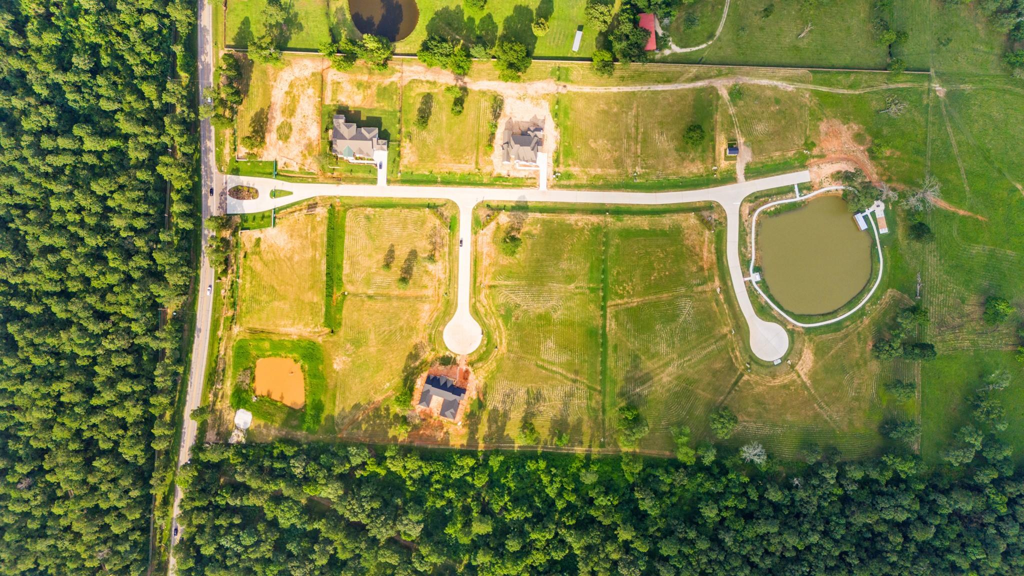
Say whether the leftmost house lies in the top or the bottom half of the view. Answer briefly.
top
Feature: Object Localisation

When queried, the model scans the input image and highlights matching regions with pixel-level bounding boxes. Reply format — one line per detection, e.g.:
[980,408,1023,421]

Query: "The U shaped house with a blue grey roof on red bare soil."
[420,373,470,422]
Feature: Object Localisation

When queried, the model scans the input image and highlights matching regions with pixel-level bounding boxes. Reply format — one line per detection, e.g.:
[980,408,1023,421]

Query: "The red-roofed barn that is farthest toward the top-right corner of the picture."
[636,13,656,53]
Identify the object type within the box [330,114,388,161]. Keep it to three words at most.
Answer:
house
